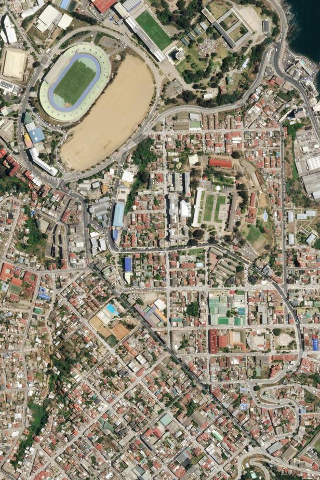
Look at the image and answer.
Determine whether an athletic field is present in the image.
Yes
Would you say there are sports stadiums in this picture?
Yes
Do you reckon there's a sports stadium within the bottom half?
No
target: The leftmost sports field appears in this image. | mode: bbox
[54,59,96,105]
